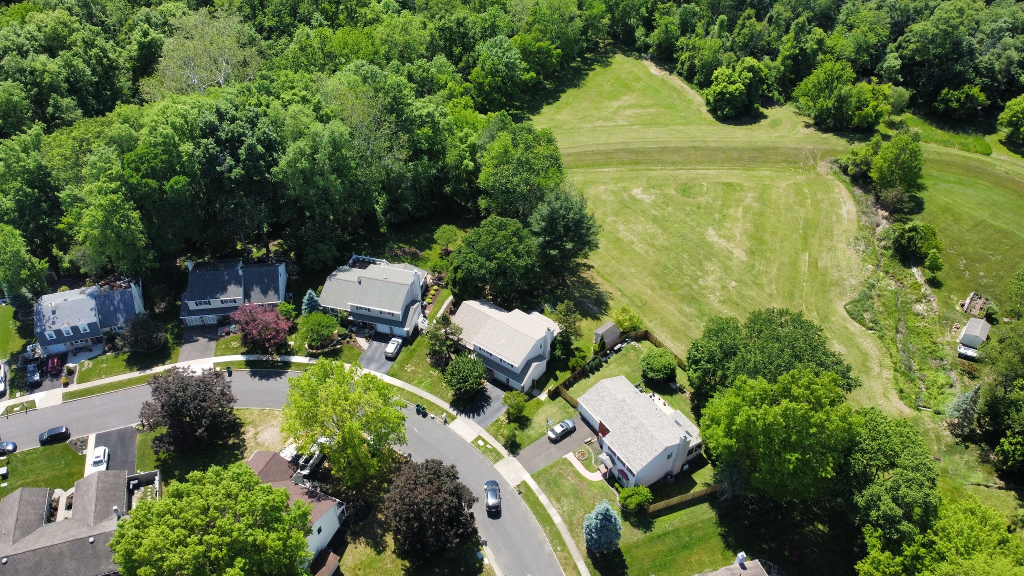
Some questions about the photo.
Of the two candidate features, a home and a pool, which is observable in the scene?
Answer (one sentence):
There is a home in the scene.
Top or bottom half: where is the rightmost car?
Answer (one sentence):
The rightmost car sits in the bottom half of the picture.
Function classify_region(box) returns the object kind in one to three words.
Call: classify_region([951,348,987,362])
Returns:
boat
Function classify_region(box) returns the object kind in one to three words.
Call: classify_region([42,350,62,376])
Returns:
car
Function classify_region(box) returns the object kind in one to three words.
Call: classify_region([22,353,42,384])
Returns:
vehicle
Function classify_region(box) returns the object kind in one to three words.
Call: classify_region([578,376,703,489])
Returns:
house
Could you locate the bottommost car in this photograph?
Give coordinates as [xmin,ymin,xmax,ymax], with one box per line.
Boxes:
[484,481,501,514]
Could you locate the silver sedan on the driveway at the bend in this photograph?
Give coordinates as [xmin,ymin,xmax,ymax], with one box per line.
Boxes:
[546,418,577,442]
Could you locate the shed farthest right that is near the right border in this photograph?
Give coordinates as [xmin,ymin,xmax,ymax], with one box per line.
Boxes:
[945,314,988,347]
